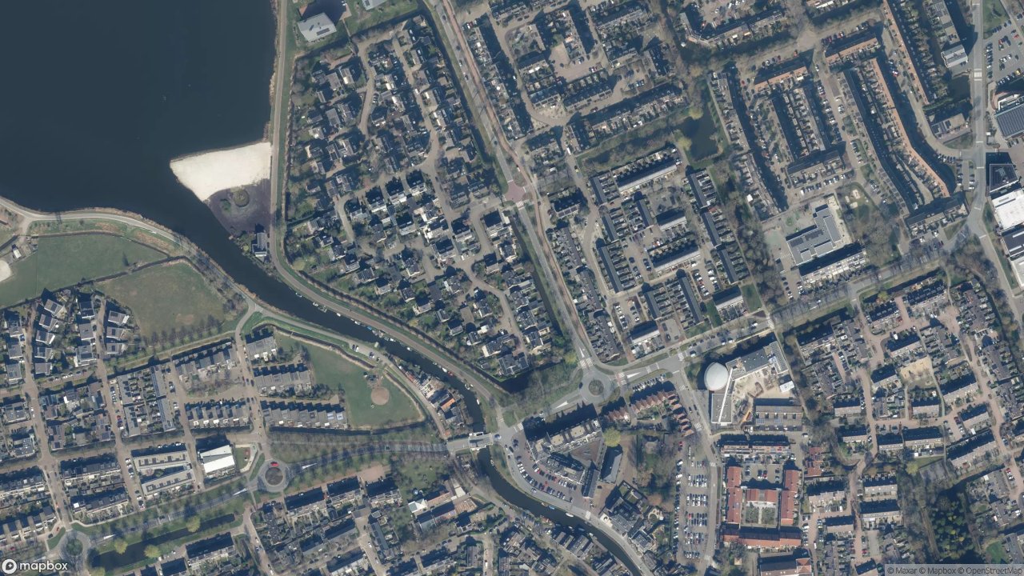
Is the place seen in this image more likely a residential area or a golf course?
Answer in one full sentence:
The area seen from above is a residential area.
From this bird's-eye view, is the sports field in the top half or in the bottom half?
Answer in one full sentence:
You can find the sports field in the bottom half.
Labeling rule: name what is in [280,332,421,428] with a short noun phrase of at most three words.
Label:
sports field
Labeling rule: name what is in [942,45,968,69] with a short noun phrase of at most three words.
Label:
building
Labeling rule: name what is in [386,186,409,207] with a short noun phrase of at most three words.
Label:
house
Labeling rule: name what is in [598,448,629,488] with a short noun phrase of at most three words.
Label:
house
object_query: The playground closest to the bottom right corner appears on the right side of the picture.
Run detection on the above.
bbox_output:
[900,357,934,389]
